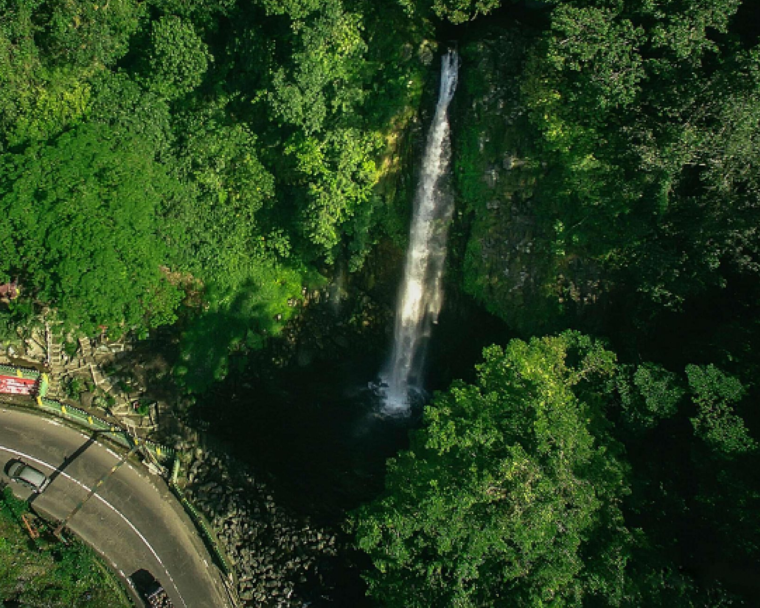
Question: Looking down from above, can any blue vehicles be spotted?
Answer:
No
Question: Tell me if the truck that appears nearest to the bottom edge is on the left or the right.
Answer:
left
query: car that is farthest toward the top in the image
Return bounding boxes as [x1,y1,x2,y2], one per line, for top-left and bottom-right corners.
[7,463,52,496]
